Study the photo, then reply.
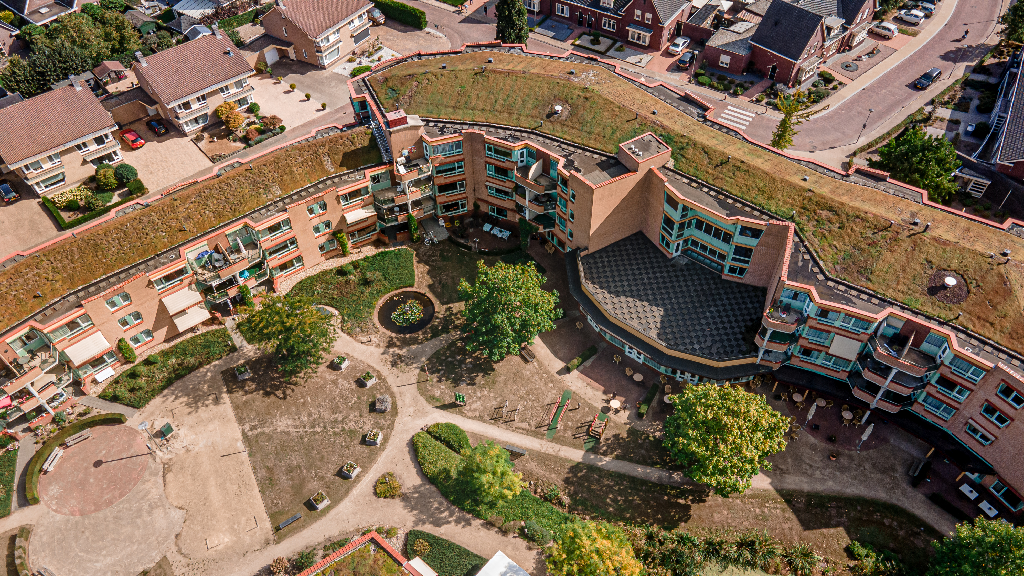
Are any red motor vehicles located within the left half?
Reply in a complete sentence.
Yes, a red motor vehicle can be seen within the left half.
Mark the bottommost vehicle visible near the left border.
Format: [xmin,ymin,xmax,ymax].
[0,180,20,202]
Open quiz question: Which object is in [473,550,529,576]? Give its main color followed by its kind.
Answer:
white tent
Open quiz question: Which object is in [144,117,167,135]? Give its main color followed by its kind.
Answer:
black car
